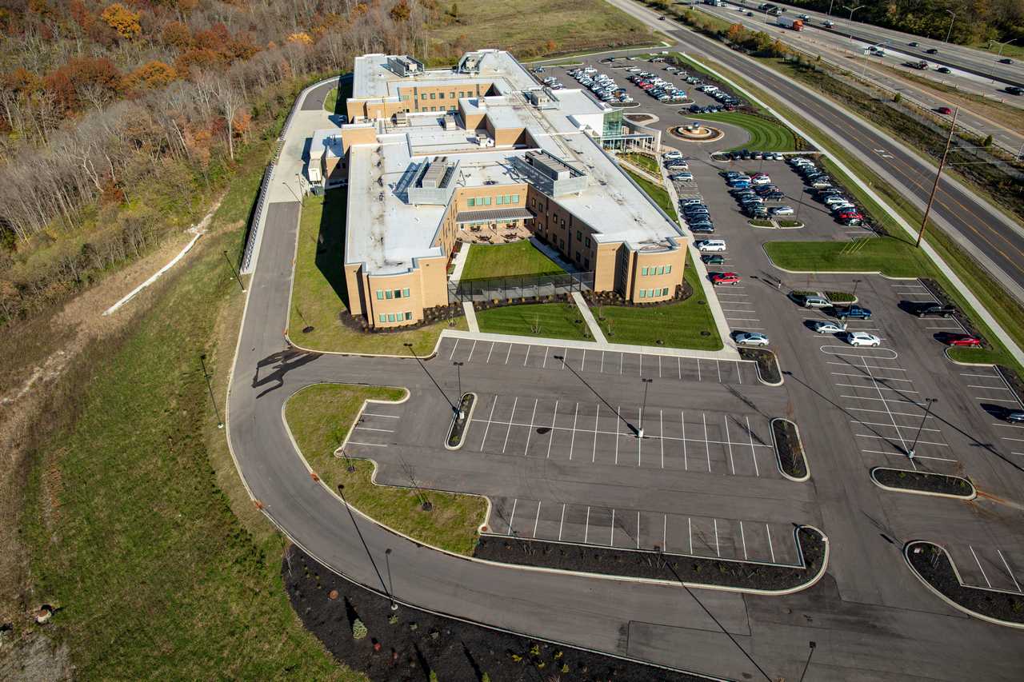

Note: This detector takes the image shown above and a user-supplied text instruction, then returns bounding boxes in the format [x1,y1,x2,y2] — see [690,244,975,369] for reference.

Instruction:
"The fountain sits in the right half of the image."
[679,121,711,138]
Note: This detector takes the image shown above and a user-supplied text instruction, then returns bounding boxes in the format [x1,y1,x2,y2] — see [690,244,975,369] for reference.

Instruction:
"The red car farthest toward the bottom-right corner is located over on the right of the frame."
[945,334,983,349]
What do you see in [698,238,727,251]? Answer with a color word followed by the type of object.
white vehicle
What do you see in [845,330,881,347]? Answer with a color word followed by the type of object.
white car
